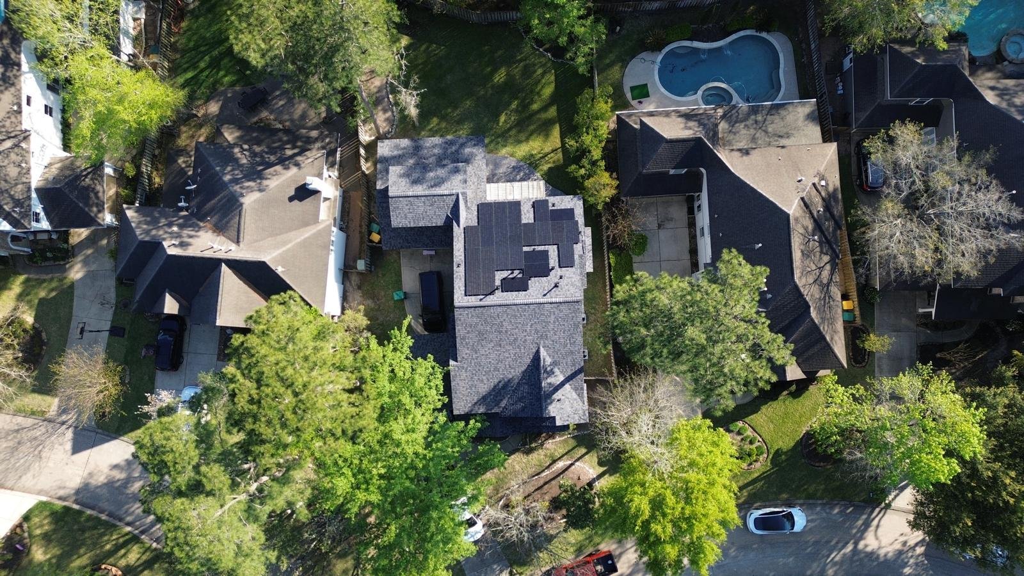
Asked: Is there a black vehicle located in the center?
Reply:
Yes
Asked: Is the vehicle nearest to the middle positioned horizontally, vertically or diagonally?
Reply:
vertically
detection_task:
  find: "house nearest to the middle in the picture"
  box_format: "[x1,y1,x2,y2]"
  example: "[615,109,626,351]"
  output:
[376,136,593,440]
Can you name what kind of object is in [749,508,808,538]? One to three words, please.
car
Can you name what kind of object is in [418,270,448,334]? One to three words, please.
vehicle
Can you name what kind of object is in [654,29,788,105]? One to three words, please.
swimming pool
